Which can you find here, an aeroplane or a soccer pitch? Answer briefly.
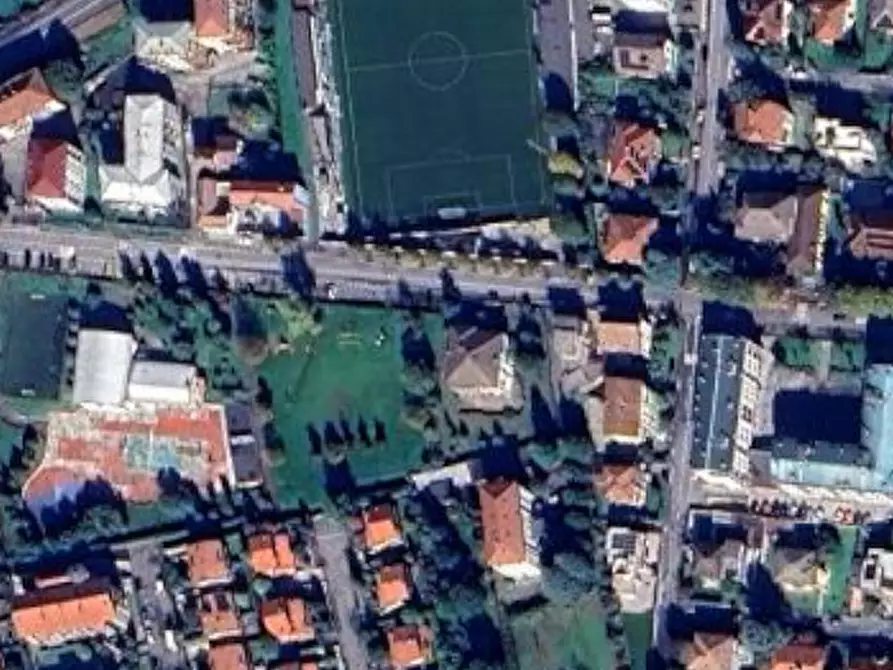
soccer pitch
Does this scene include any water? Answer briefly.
No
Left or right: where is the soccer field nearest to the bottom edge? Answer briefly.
left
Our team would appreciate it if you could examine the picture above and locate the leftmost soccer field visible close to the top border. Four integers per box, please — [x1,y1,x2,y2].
[331,0,554,233]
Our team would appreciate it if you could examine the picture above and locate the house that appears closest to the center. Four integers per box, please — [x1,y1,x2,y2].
[445,332,521,413]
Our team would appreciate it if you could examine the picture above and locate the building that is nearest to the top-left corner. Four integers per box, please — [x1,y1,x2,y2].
[0,68,75,146]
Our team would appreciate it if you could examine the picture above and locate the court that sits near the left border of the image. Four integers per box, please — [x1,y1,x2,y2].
[22,403,236,530]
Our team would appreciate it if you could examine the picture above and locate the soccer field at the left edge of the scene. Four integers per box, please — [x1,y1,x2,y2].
[0,298,67,398]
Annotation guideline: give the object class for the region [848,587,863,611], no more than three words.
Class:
shed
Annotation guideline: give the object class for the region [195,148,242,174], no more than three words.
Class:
building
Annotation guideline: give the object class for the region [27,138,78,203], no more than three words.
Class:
house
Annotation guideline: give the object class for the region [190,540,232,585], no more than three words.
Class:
house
